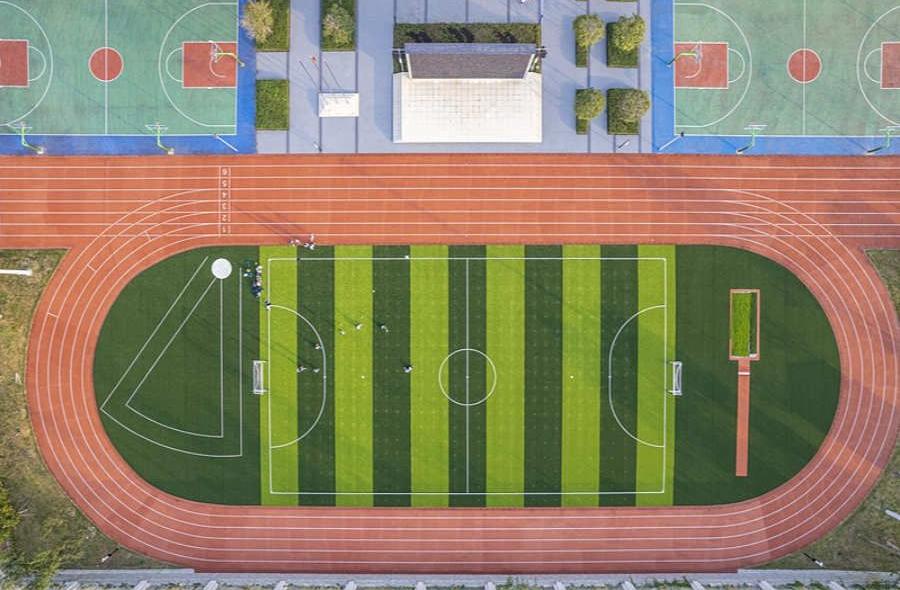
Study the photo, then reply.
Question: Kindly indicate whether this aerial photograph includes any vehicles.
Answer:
No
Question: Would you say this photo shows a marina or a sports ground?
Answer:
sports ground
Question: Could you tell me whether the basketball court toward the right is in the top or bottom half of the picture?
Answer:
top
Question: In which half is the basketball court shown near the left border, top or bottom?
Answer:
top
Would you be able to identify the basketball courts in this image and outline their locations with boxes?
[0,0,257,154]
[652,0,900,154]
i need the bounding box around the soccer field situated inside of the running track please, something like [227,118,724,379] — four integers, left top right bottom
[260,246,675,506]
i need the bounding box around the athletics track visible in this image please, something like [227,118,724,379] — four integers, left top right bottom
[0,154,900,573]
